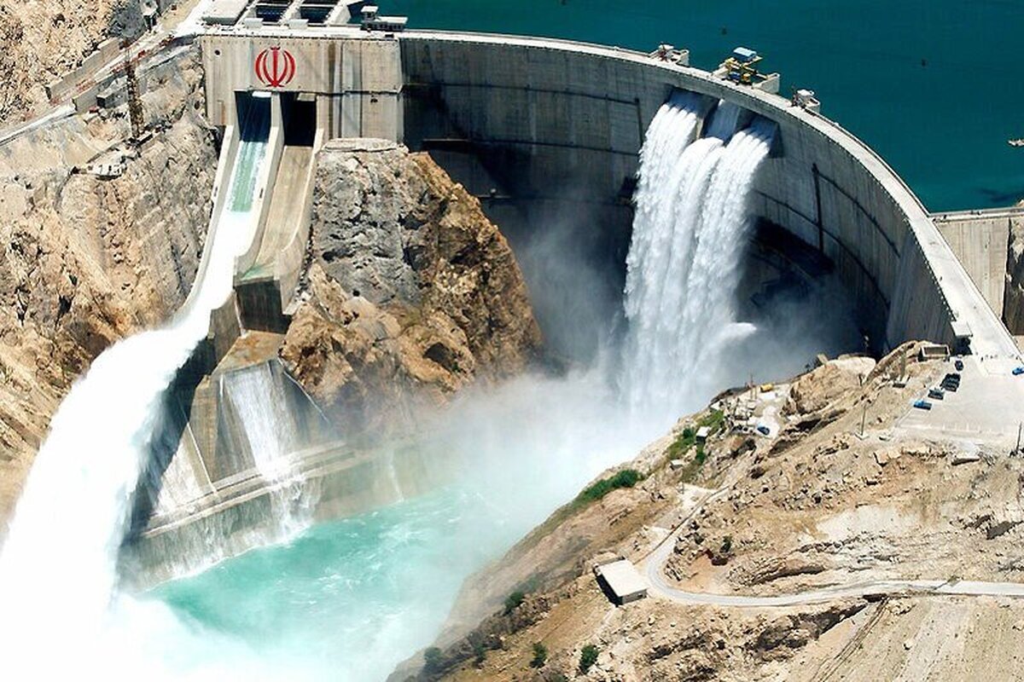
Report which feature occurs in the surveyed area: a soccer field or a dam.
dam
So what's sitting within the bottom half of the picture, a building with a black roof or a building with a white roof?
building with a white roof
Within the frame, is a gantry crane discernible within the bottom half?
No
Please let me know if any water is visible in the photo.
Yes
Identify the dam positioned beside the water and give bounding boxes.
[396,29,991,410]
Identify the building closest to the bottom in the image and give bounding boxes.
[594,558,650,614]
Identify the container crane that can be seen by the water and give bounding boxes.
[727,54,772,86]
